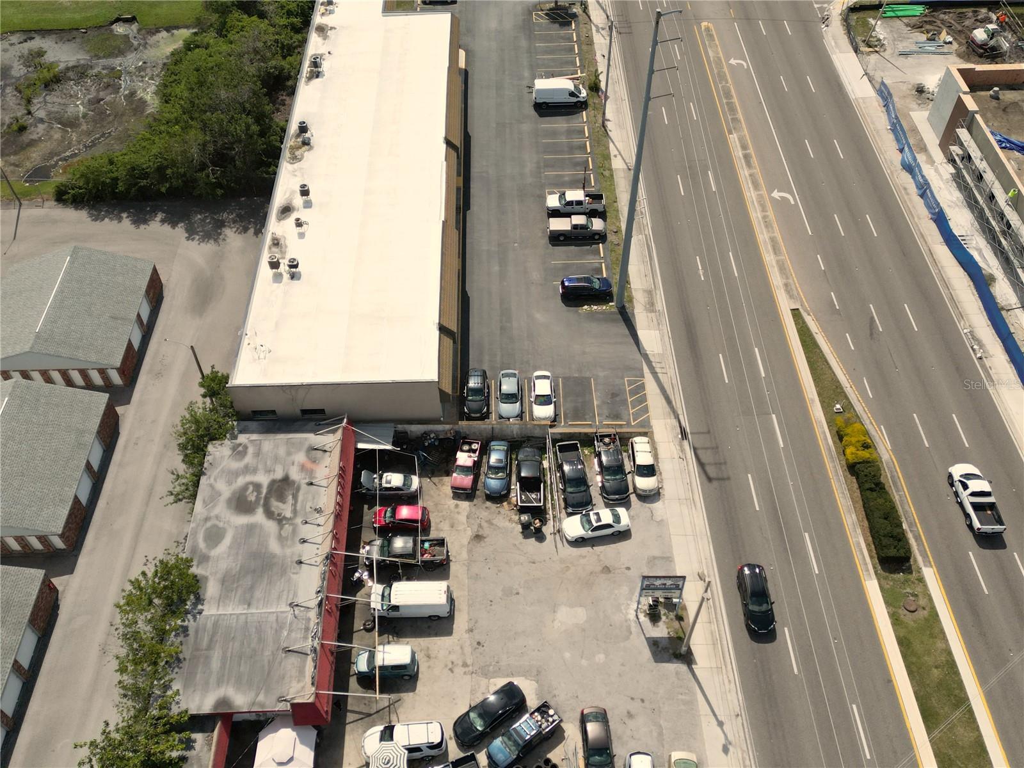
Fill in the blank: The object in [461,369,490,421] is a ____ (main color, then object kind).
black car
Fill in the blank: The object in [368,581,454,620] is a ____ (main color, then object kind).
white van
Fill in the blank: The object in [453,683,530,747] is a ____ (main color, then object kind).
black car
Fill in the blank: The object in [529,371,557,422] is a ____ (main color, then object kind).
white car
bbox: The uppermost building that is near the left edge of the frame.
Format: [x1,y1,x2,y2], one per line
[0,253,160,389]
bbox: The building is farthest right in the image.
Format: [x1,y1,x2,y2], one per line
[914,63,1024,274]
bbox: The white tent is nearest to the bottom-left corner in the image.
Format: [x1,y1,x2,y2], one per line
[256,726,326,768]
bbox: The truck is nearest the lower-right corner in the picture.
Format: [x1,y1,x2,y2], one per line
[951,465,1008,538]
